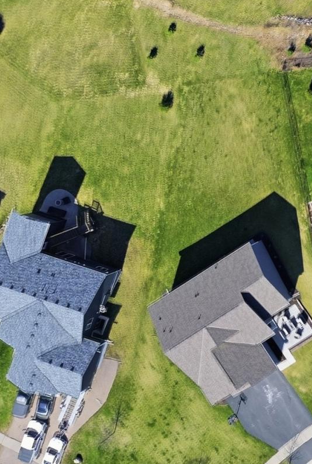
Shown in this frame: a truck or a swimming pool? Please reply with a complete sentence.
I can see a truck in this picture.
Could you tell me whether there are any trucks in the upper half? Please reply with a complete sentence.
No, no truck is visible in the upper half.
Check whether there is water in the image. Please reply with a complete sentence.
No, no water is visible.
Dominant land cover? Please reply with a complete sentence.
Most of the picture is covered by grass.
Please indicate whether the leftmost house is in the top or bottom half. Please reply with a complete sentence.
Seen from above, the leftmost house lies in the bottom half of the view.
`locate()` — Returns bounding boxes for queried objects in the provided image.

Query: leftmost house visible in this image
[0,211,126,396]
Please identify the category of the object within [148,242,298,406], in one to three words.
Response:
house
